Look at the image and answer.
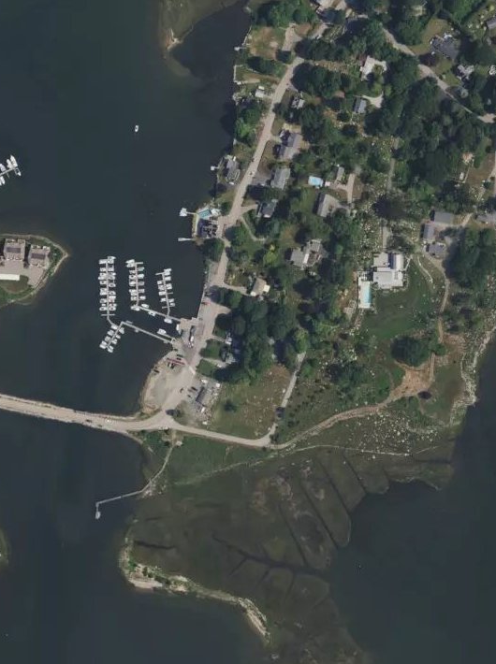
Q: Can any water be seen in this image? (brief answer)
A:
Yes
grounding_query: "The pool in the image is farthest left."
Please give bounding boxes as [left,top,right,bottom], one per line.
[196,207,214,222]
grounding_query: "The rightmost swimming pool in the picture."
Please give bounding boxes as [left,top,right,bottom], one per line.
[359,278,371,307]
